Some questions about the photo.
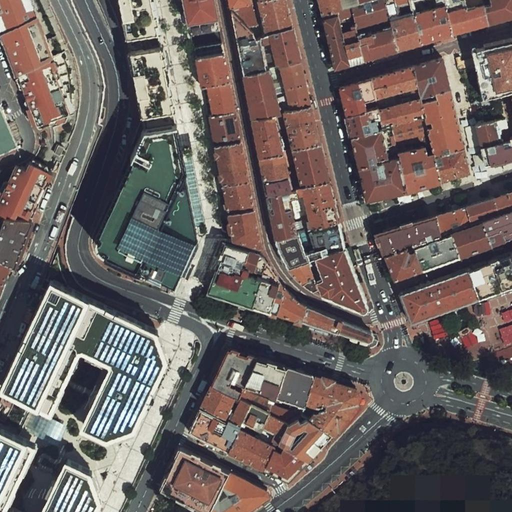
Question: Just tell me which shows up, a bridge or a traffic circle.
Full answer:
There is a traffic circle in the scene.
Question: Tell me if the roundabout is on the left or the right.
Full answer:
The roundabout sits on the right side.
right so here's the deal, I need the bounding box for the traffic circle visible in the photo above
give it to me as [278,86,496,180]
[366,345,440,419]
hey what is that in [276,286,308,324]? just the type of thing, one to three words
building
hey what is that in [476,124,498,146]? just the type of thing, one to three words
house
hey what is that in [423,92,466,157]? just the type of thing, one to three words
building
